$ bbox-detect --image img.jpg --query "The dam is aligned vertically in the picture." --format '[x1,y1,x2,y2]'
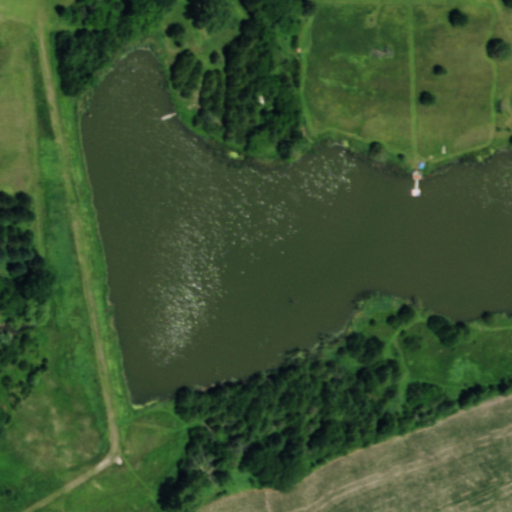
[27,30,134,444]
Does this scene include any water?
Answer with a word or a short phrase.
Yes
